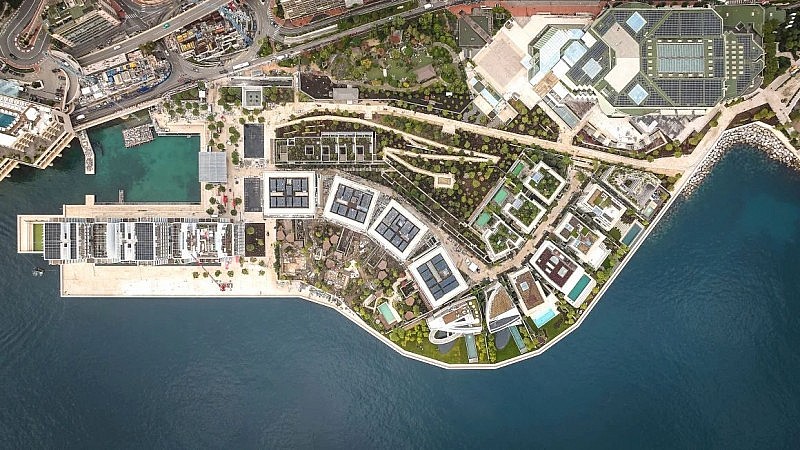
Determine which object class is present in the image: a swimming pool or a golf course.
swimming pool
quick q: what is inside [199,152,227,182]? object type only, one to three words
building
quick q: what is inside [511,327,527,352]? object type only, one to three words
swimming pool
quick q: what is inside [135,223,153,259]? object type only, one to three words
solar panel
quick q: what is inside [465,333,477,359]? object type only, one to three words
swimming pool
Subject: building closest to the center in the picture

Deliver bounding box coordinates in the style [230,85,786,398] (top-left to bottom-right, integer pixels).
[368,198,428,259]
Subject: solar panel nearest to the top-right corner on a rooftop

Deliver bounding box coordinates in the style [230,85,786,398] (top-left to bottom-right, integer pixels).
[738,36,762,59]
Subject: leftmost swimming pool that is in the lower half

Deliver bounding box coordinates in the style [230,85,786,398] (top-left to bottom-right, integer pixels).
[376,302,398,326]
